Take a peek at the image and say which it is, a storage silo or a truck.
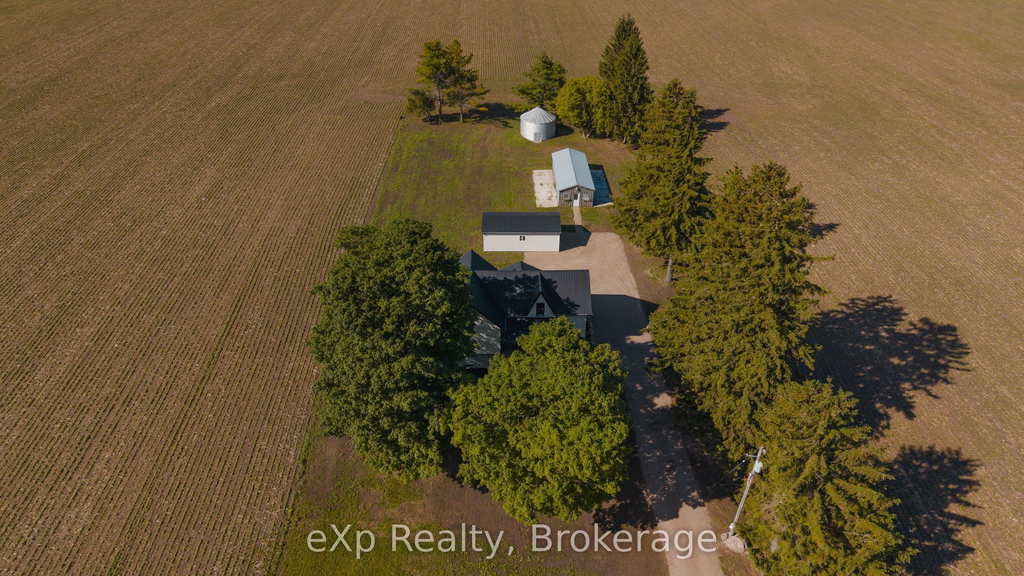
storage silo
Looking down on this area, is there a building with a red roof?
No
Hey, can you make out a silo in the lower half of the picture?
No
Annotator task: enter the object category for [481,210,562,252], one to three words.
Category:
building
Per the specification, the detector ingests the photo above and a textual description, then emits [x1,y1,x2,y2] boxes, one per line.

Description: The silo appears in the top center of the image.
[520,106,556,143]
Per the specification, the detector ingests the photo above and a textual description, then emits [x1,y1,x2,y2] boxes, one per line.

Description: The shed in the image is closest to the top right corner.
[552,147,596,207]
